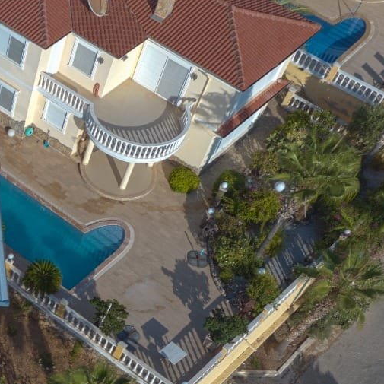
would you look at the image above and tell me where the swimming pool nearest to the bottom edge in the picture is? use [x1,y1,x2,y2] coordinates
[0,166,140,298]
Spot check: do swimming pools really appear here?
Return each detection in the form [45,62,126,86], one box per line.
[0,166,140,298]
[306,11,376,67]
